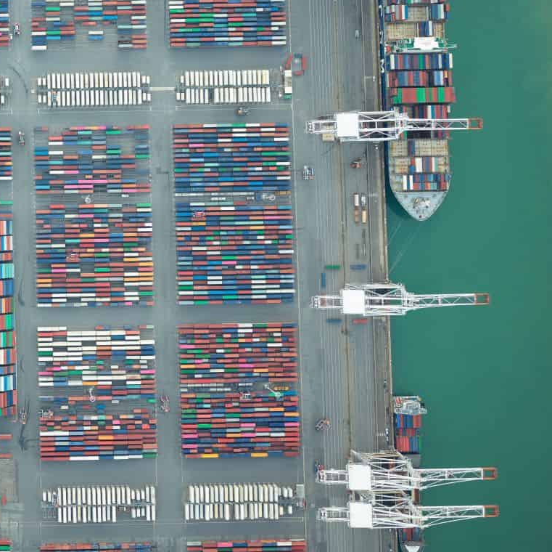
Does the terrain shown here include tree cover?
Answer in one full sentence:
No, tree cover can't be seen anywhere here.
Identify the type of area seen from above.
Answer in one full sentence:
The picture captures a port.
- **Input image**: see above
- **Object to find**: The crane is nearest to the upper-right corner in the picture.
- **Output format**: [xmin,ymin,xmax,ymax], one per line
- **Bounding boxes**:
[304,110,486,146]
